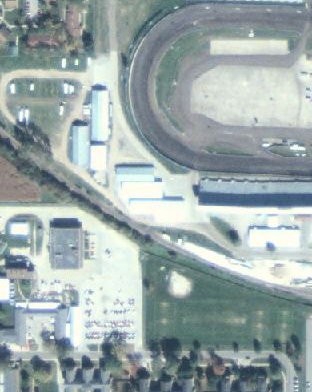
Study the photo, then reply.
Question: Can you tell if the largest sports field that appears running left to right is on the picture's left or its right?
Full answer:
The largest sports field that appears running left to right appears in the right half of the scene.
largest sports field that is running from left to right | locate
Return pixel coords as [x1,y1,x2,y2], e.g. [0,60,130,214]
[143,262,306,351]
